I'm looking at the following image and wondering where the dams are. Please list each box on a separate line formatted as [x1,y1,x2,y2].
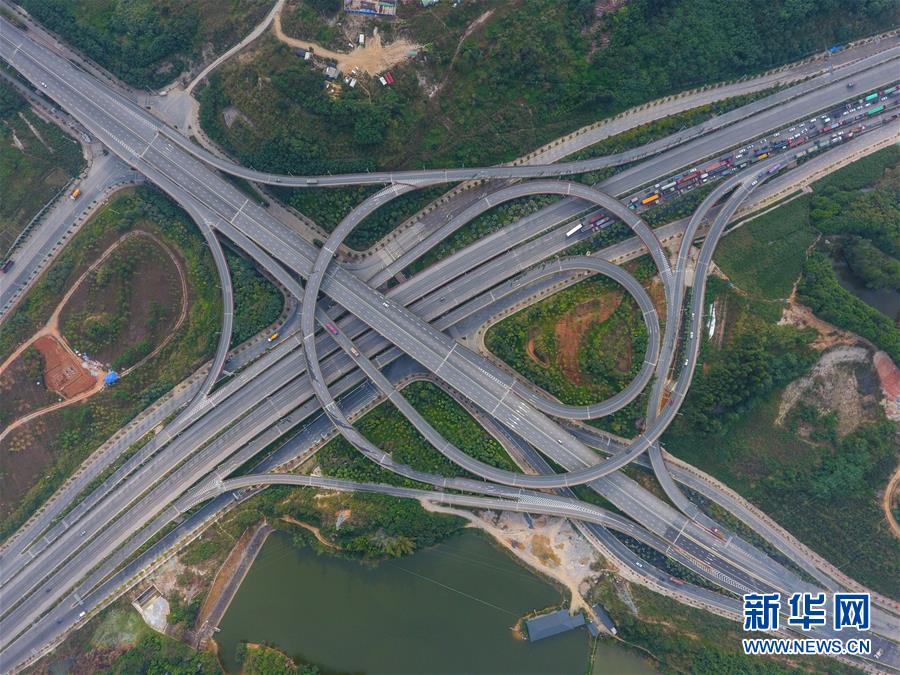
[195,520,274,642]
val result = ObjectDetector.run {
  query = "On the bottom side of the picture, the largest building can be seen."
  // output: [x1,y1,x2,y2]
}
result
[526,606,573,642]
